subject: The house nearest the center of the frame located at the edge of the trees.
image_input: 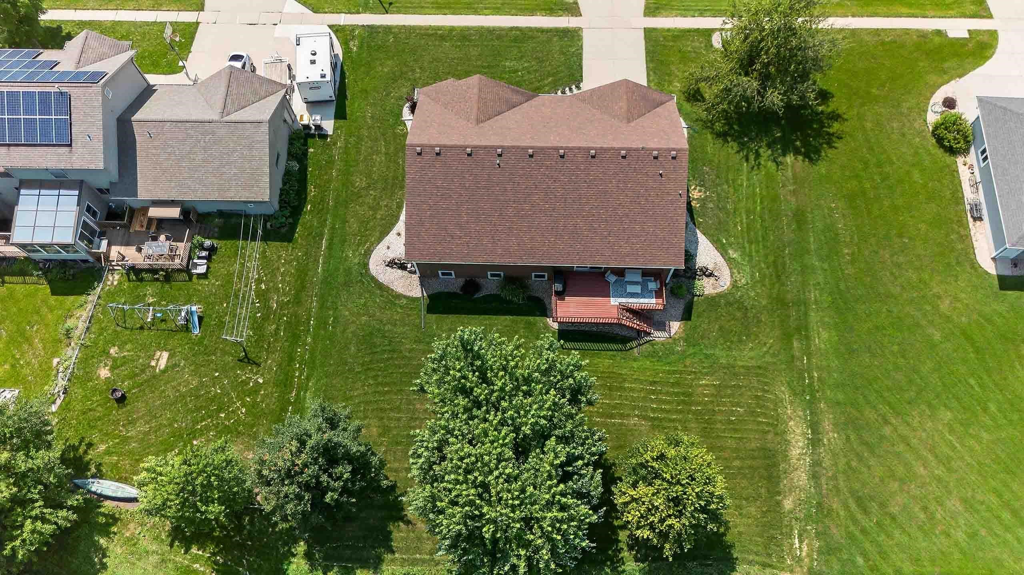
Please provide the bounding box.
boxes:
[403,74,688,284]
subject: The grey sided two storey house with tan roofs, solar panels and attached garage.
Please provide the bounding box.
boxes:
[0,30,295,216]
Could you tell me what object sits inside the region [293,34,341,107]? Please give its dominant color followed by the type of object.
white vehicle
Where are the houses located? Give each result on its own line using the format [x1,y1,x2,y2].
[403,74,688,284]
[0,30,295,216]
[965,95,1024,280]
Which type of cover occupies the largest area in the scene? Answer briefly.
grass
